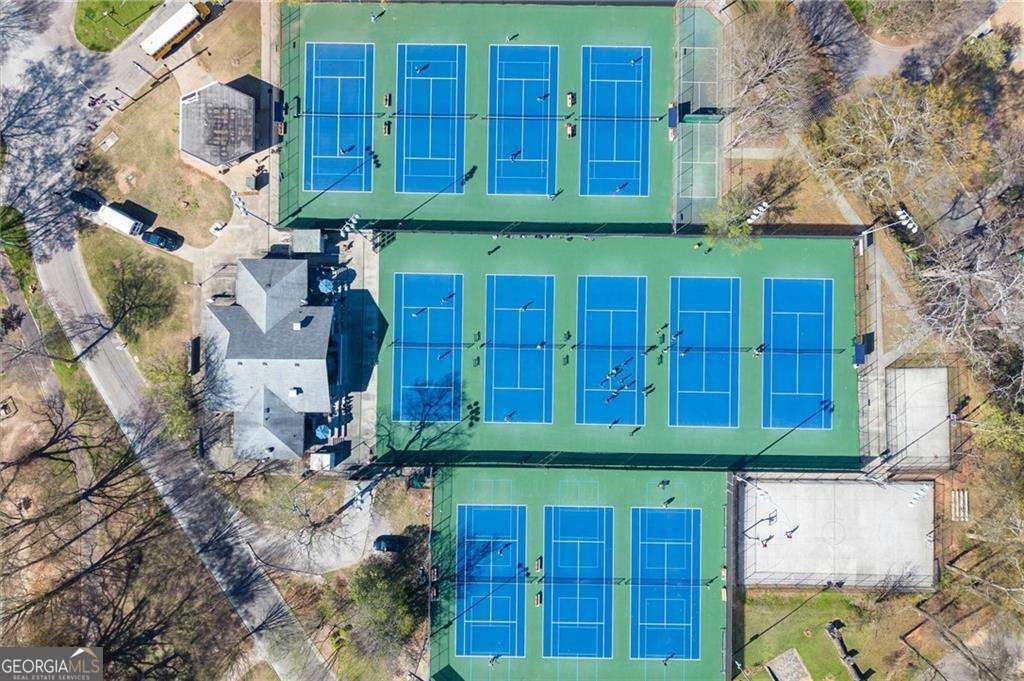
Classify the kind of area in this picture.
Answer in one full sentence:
It's a sports ground.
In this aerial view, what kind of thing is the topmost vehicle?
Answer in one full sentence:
The topmost vehicle can be classified as a bus.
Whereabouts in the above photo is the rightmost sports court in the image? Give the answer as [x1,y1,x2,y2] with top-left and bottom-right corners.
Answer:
[887,366,951,471]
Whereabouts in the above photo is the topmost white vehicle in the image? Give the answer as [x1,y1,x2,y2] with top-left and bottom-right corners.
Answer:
[141,2,210,64]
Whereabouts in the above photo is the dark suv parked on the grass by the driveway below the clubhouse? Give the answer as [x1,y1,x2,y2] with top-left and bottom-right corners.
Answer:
[374,536,406,552]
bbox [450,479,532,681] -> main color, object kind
blue tennis court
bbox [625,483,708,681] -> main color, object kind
blue tennis court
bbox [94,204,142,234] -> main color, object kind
white van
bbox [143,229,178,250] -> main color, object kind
blue car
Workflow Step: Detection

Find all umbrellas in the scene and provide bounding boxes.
[318,278,332,293]
[314,424,329,439]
